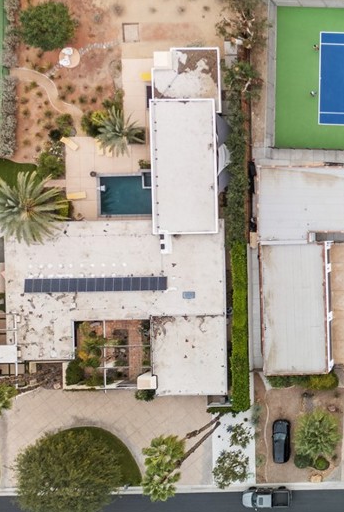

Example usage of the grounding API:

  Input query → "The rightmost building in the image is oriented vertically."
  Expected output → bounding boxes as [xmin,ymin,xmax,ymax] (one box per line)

[258,166,344,375]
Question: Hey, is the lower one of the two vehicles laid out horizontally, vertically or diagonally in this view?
horizontally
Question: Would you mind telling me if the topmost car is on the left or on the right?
right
